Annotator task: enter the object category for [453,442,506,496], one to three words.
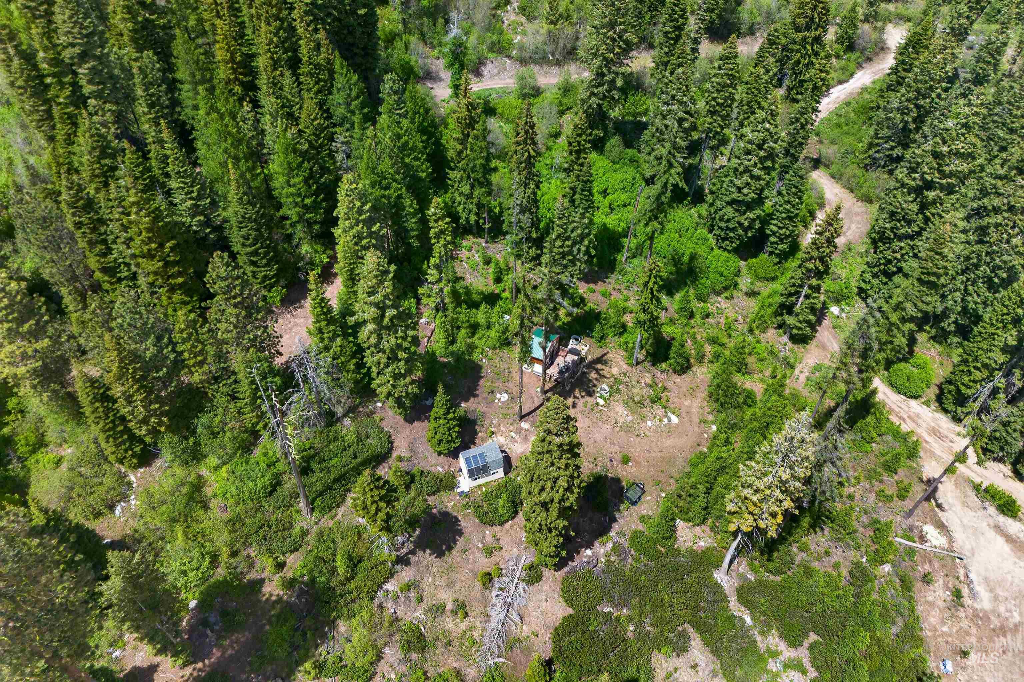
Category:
shed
